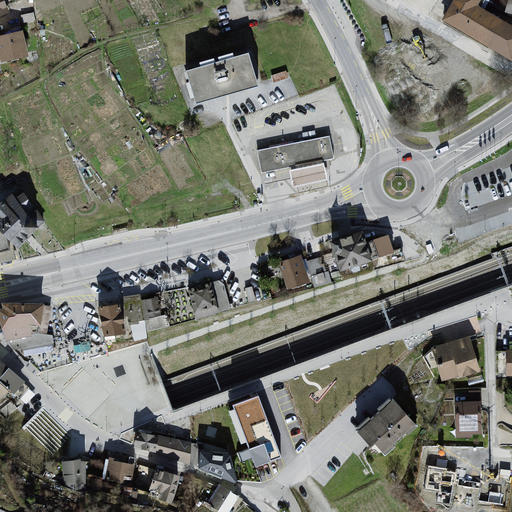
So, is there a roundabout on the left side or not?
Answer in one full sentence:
No, there is no roundabout on the left side.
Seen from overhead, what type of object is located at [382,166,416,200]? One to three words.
roundabout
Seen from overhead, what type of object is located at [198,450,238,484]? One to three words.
house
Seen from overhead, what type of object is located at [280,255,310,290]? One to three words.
house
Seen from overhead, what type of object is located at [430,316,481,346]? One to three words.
building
